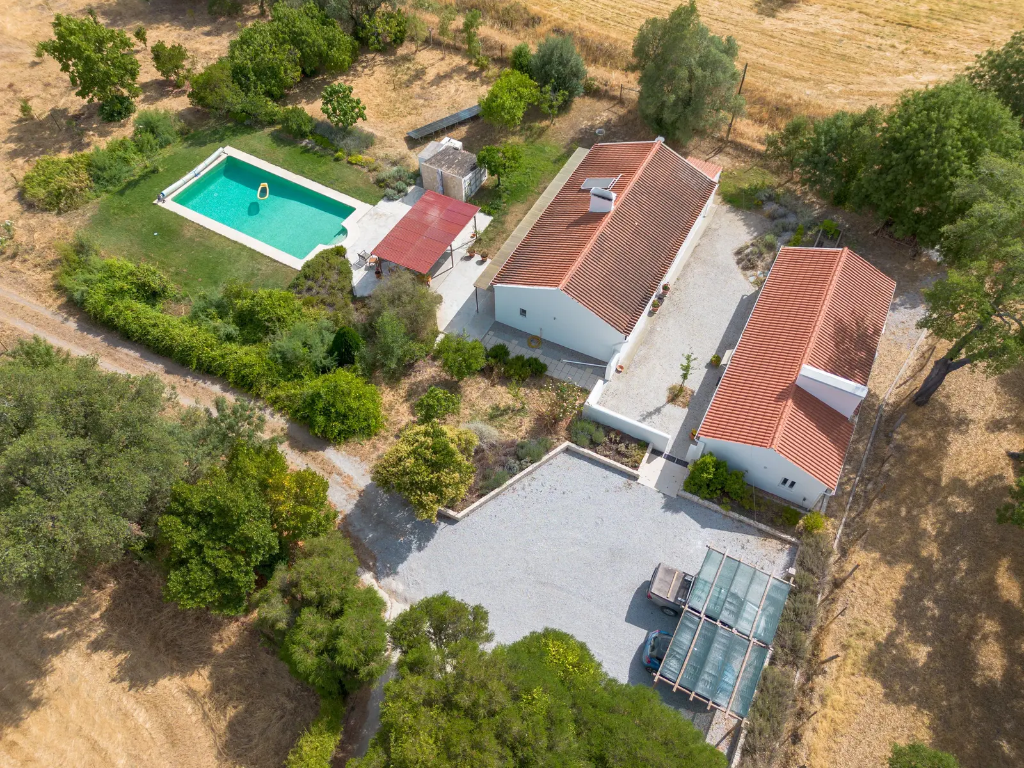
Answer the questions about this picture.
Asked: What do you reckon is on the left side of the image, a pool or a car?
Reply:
pool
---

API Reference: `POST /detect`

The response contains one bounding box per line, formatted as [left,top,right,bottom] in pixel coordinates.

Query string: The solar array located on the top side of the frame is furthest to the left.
[407,105,487,146]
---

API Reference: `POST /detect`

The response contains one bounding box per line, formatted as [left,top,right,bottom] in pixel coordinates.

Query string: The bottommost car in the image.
[638,627,674,670]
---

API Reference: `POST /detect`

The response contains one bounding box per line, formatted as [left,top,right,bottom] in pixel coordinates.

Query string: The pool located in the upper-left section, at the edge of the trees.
[160,150,366,264]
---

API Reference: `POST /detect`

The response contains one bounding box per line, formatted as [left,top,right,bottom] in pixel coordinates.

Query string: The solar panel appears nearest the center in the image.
[580,170,631,192]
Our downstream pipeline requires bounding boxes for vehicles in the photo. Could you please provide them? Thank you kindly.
[638,627,674,670]
[644,563,743,635]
